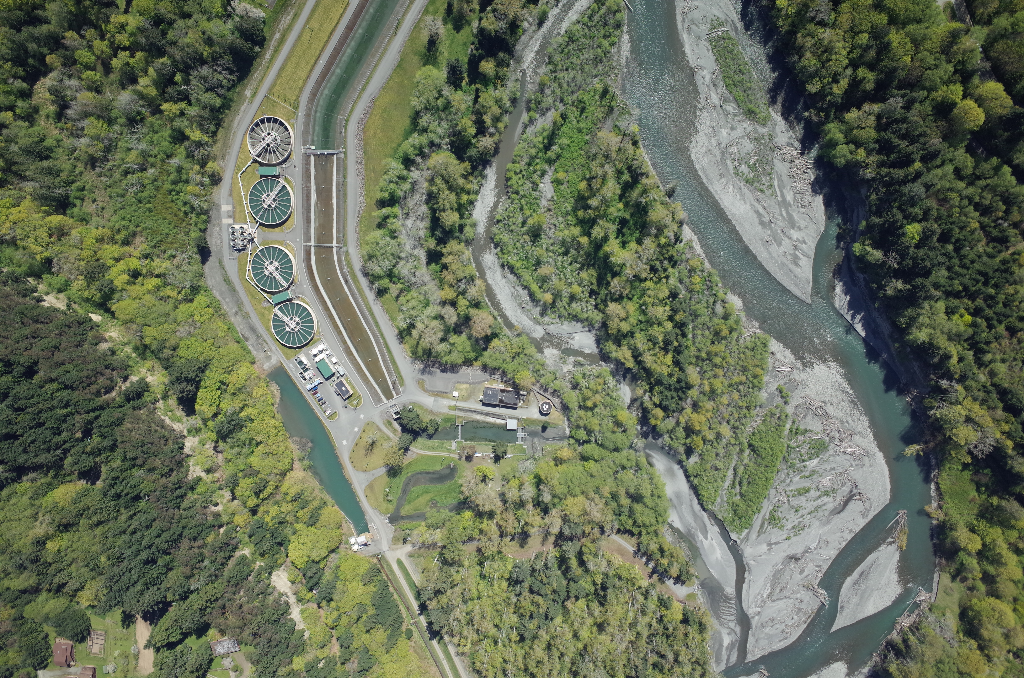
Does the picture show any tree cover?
Yes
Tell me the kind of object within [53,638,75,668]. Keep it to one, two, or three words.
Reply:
house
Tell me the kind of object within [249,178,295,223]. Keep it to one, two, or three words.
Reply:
storage tank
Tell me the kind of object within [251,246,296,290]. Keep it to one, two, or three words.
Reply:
storage tank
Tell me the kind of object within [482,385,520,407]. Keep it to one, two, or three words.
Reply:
building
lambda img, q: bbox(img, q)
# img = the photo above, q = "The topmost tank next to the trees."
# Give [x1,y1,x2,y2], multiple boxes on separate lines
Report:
[248,117,295,163]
